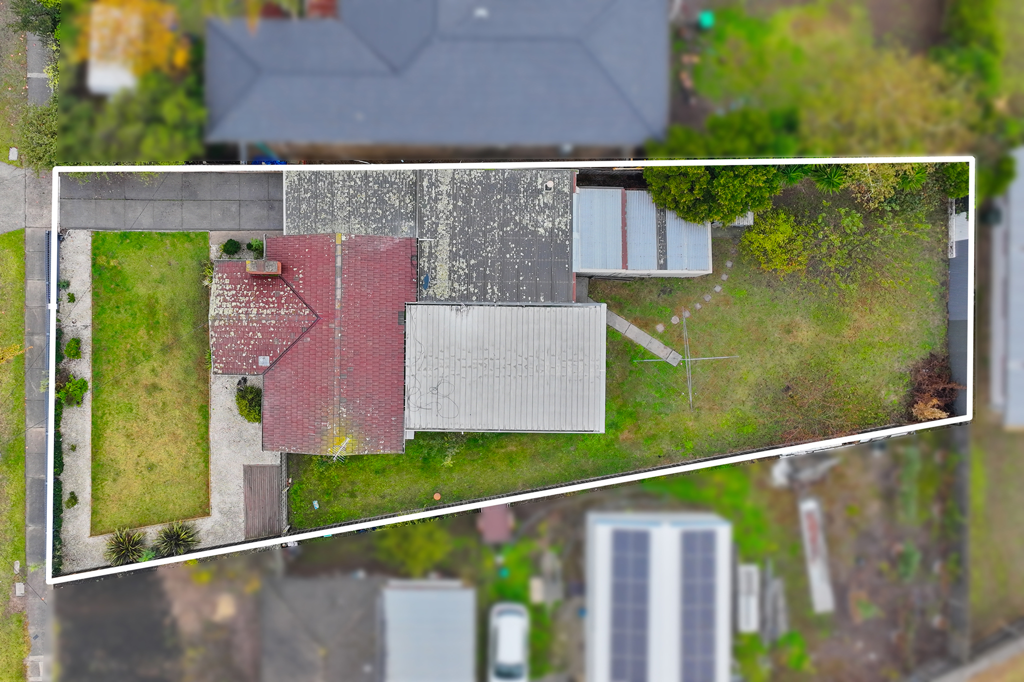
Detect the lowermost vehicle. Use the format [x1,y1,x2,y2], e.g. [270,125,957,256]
[488,608,530,682]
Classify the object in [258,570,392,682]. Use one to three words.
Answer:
house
